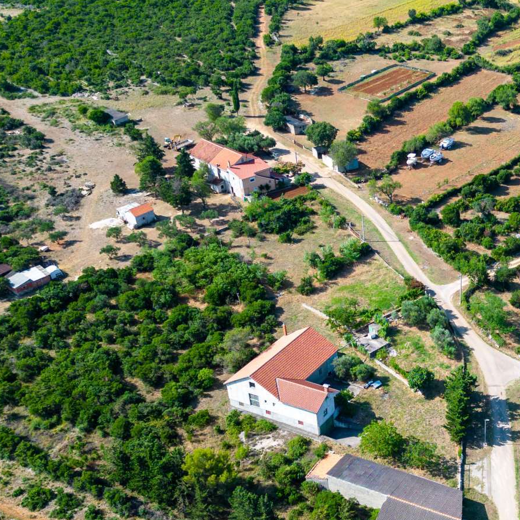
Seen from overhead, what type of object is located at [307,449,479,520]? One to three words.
barn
